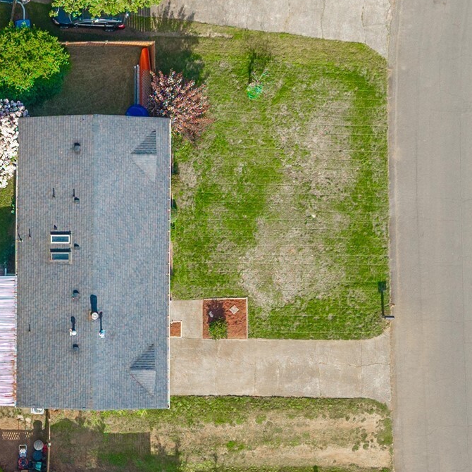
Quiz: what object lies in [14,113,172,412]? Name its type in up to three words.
house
